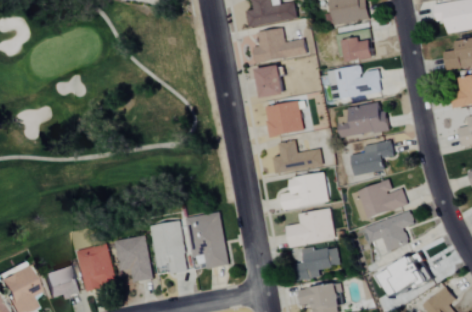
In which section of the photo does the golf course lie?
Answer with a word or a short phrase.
left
